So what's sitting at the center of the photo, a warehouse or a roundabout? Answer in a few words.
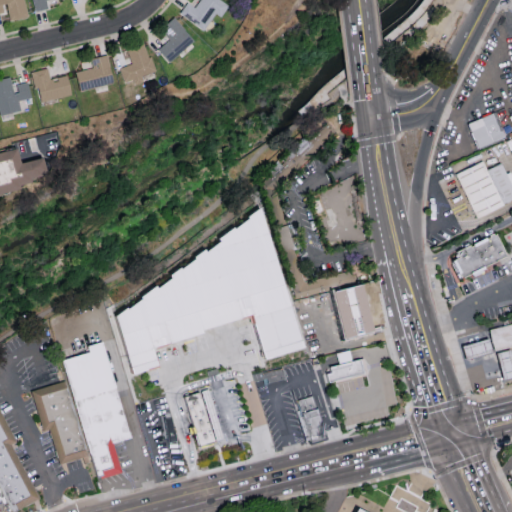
warehouse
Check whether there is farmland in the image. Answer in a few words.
No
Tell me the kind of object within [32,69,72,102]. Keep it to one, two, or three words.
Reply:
house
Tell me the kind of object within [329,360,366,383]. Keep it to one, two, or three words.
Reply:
building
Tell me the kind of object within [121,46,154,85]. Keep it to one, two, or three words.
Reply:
house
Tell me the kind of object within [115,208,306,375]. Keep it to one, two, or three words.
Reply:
warehouse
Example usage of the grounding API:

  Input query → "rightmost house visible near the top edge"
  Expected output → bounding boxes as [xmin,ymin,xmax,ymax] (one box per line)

[182,0,229,31]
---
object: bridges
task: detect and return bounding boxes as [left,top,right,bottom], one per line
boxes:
[339,0,384,76]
